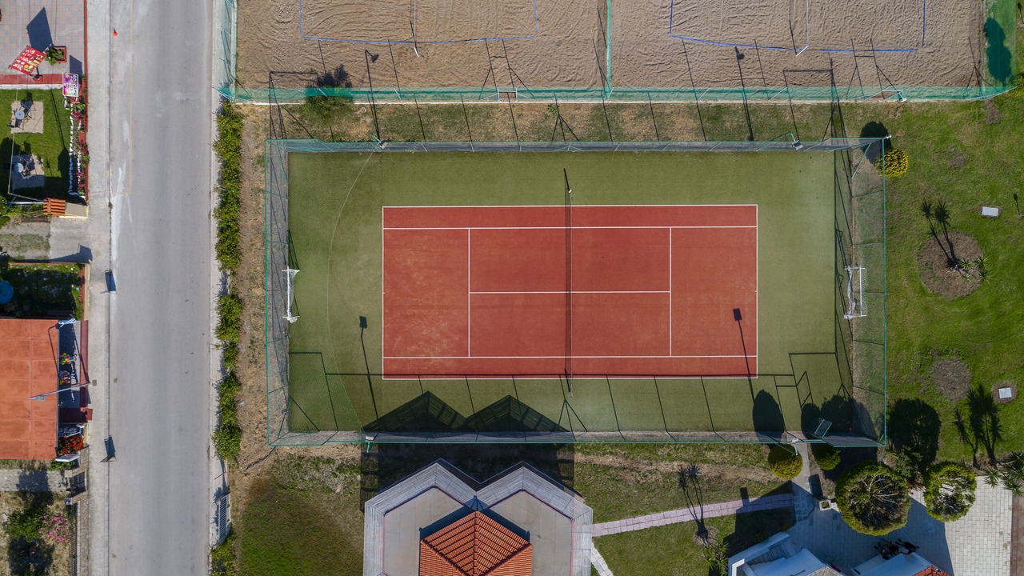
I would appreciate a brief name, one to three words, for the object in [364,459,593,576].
building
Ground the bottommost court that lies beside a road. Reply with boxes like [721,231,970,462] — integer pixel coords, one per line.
[288,152,852,432]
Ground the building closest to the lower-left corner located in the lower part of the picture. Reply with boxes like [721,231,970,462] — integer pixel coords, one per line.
[0,319,81,460]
